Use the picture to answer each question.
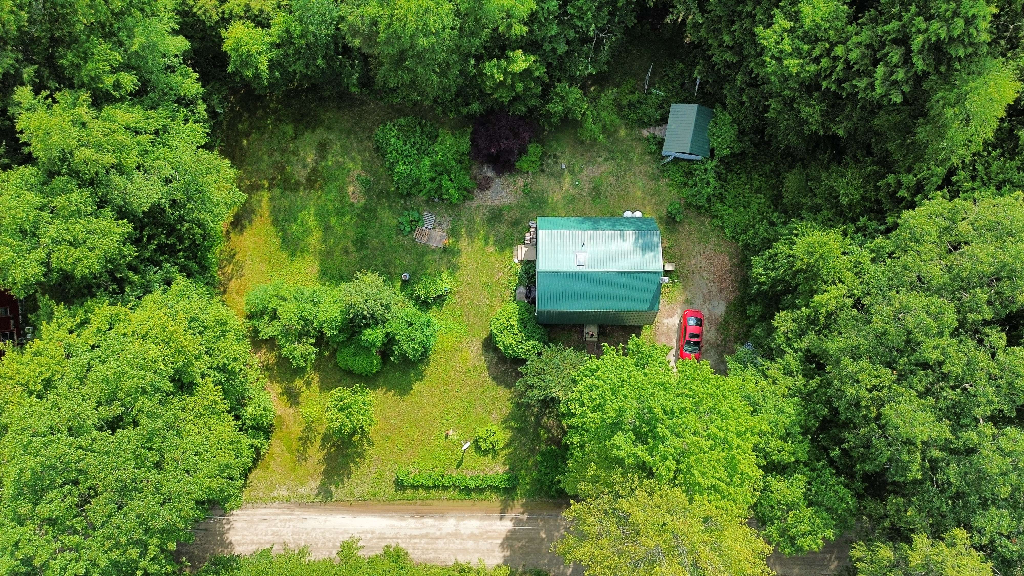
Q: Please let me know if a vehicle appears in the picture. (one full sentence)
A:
Yes, the picture does show a vehicle.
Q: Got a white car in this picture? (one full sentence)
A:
No, the photo shows no white car.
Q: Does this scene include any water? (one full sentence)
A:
No, no water is visible.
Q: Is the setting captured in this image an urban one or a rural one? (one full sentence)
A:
The area is rural.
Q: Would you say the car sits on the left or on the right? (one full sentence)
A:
You can find the car on the right side of the picture.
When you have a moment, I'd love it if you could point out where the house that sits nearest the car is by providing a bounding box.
[534,217,672,327]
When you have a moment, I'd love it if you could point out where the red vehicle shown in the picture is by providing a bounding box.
[678,310,706,368]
